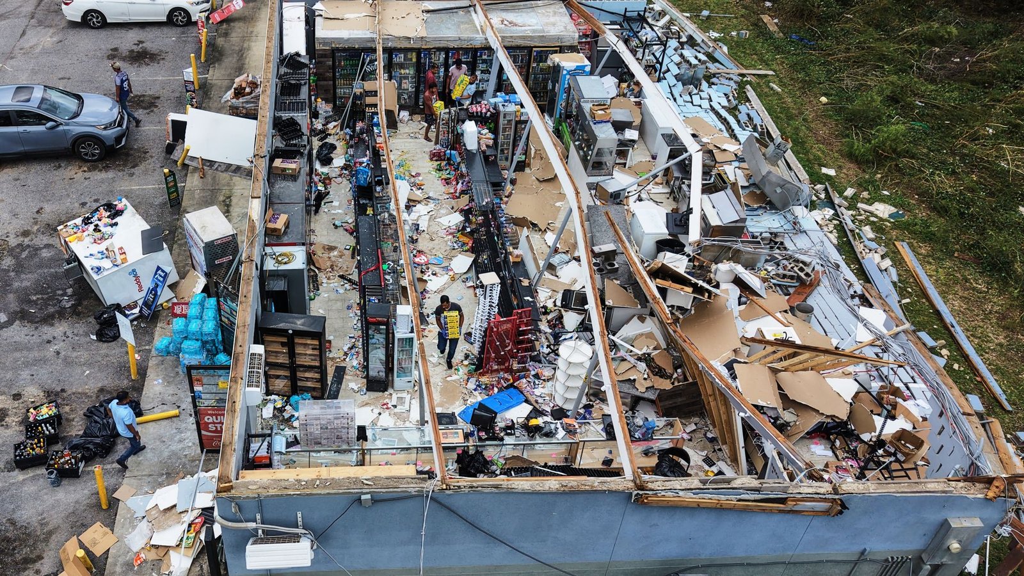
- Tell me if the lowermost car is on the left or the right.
left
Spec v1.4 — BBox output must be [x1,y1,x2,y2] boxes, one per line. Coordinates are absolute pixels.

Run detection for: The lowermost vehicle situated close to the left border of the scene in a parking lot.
[0,79,128,162]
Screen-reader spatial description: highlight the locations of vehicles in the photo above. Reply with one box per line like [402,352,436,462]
[55,0,209,28]
[0,79,128,162]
